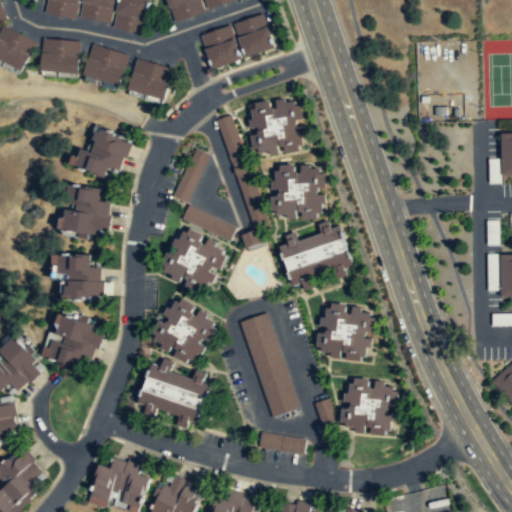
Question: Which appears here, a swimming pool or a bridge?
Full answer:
Looking from above, you can make out a swimming pool.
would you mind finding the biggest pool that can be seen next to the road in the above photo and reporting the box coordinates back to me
[227,246,280,300]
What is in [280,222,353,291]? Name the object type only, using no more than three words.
building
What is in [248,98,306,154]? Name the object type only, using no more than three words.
building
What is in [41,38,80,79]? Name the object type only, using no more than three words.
house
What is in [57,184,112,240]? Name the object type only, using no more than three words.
house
